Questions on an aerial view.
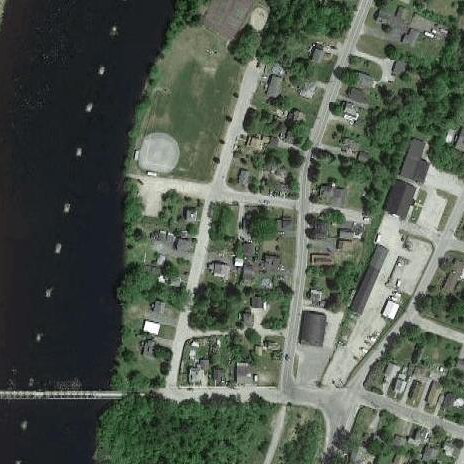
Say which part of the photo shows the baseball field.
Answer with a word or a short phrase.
top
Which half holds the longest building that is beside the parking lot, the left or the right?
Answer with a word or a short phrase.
right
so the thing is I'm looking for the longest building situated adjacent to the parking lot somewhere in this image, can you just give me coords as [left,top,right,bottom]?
[351,246,389,315]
